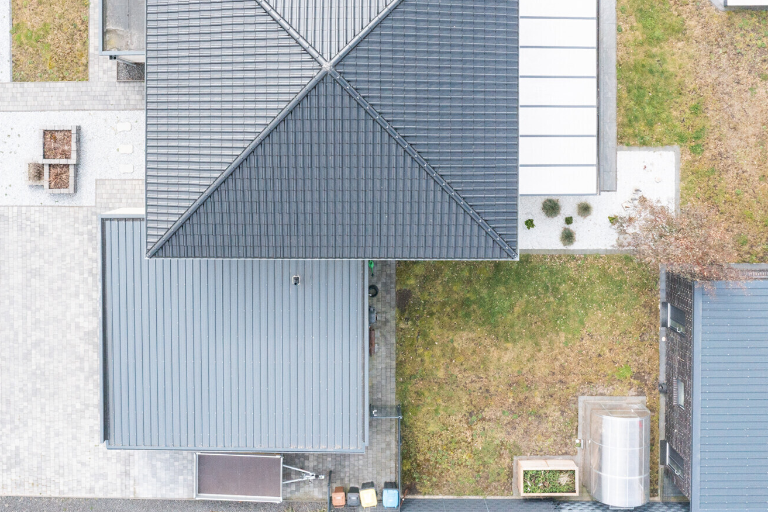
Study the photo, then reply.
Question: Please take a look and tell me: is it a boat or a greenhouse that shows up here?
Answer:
greenhouse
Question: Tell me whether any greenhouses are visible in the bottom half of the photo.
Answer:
Yes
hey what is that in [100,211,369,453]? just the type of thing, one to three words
building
